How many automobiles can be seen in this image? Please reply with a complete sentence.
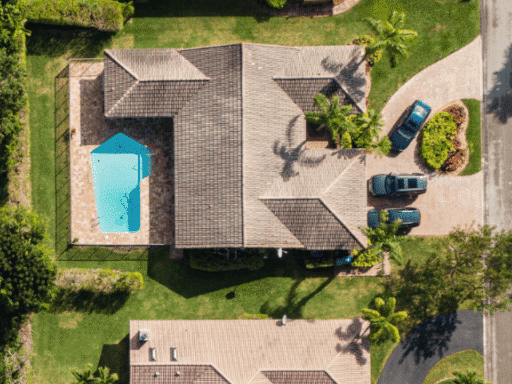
In total, there are 3 automobiles in the scene.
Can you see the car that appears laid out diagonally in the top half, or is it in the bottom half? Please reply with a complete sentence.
Seen from above, the car that appears laid out diagonally lies in the top half of the view.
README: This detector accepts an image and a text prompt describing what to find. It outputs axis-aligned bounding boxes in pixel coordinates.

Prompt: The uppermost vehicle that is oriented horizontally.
[367,171,429,199]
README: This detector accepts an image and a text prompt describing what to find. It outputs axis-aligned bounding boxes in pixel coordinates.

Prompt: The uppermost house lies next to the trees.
[104,41,368,250]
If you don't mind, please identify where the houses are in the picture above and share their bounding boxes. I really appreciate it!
[104,41,368,250]
[129,318,370,384]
